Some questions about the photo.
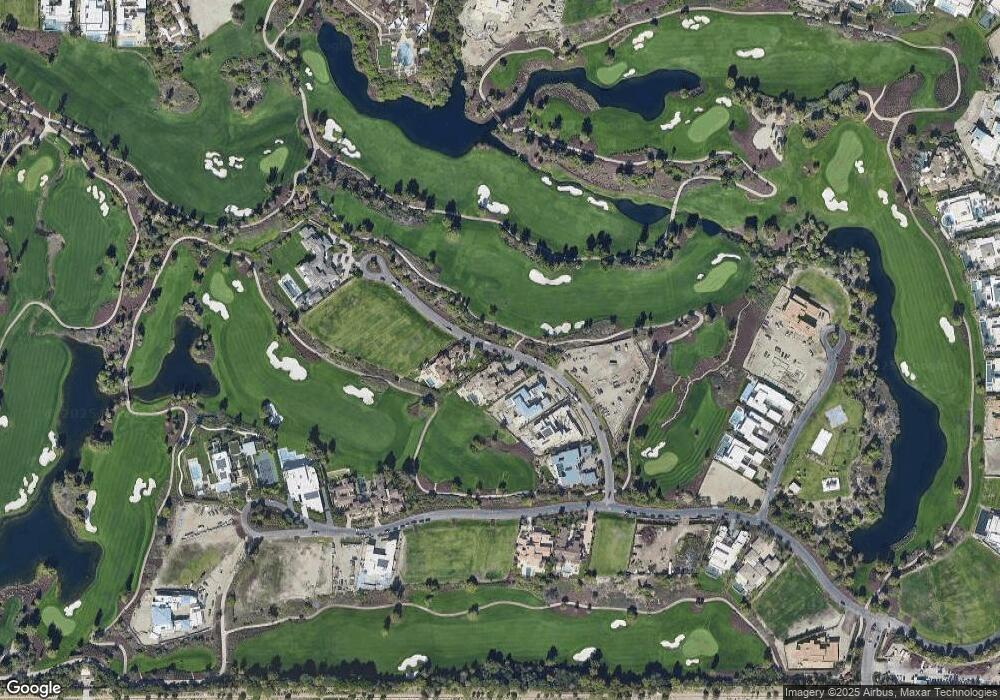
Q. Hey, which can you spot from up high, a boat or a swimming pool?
swimming pool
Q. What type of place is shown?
golf course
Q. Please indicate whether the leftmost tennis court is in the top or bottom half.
bottom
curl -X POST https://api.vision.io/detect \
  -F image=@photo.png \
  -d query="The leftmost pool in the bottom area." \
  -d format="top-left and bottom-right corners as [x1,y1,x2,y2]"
[189,462,203,486]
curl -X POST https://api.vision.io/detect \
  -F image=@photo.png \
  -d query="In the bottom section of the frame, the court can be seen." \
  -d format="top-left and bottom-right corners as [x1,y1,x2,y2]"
[256,449,279,485]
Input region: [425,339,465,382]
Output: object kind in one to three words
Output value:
house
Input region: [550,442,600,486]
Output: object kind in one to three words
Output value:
house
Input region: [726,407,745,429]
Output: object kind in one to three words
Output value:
swimming pool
